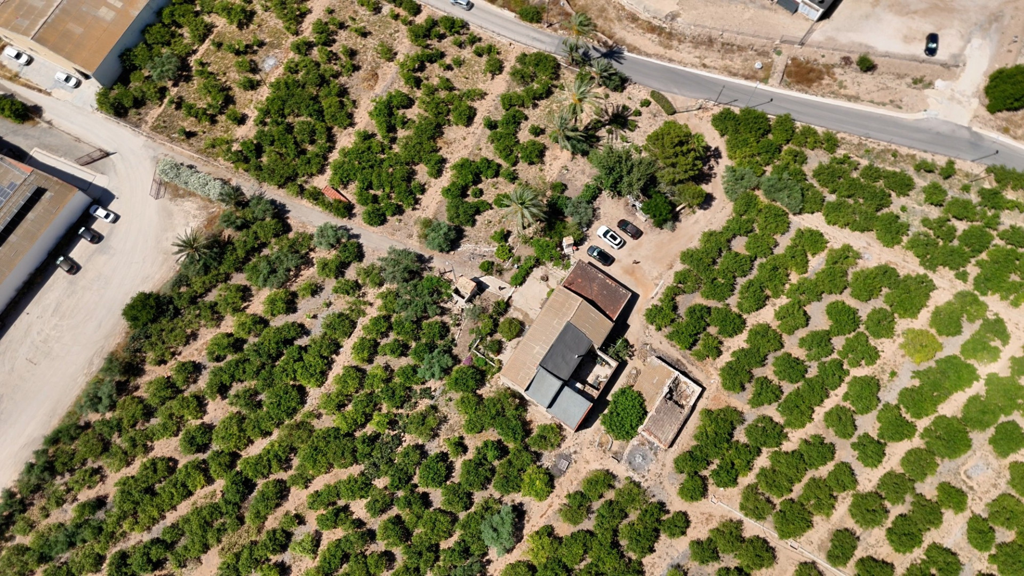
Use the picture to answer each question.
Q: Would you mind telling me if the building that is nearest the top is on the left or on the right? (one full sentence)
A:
The building that is nearest the top sits on the right side.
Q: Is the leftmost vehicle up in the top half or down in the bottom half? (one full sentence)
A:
The top half of the photo is where the leftmost vehicle is.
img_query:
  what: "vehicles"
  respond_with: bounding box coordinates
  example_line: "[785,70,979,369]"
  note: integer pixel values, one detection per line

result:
[75,225,104,248]
[48,66,82,91]
[0,41,33,67]
[922,31,940,59]
[593,224,626,253]
[448,0,475,14]
[52,253,82,278]
[86,204,120,227]
[614,218,646,243]
[584,243,617,269]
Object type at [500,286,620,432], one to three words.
house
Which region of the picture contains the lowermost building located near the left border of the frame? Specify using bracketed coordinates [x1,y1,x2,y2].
[0,152,93,313]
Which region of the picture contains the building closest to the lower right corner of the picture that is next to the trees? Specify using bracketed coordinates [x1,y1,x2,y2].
[631,355,703,450]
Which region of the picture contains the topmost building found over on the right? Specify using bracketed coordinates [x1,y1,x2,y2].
[791,0,832,32]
